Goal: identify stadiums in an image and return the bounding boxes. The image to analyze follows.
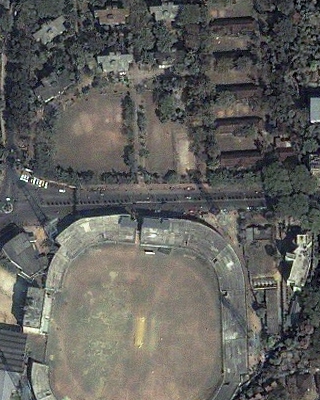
[23,212,247,400]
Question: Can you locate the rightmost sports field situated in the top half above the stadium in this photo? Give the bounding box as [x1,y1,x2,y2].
[143,88,199,172]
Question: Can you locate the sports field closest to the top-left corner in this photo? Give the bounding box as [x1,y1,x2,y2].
[54,92,128,172]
